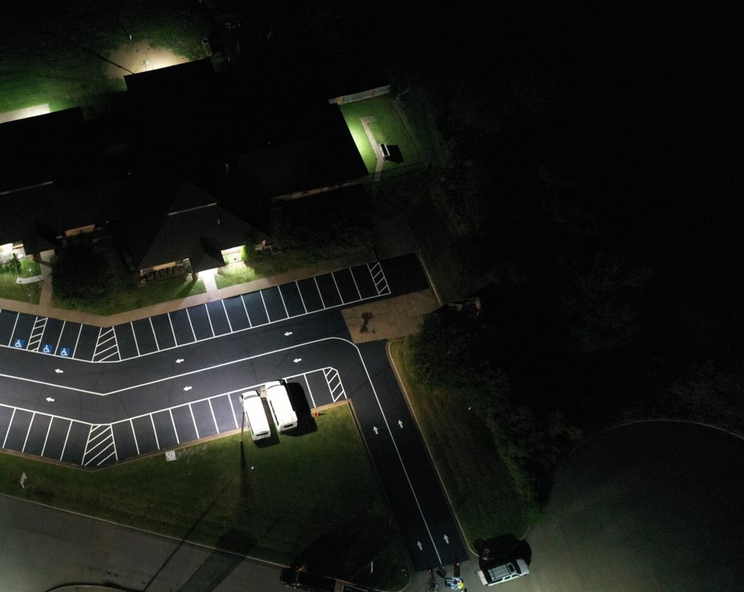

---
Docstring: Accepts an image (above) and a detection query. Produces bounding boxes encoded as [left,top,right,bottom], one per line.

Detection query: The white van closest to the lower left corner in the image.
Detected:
[244,394,273,440]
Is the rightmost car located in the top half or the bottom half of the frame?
bottom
